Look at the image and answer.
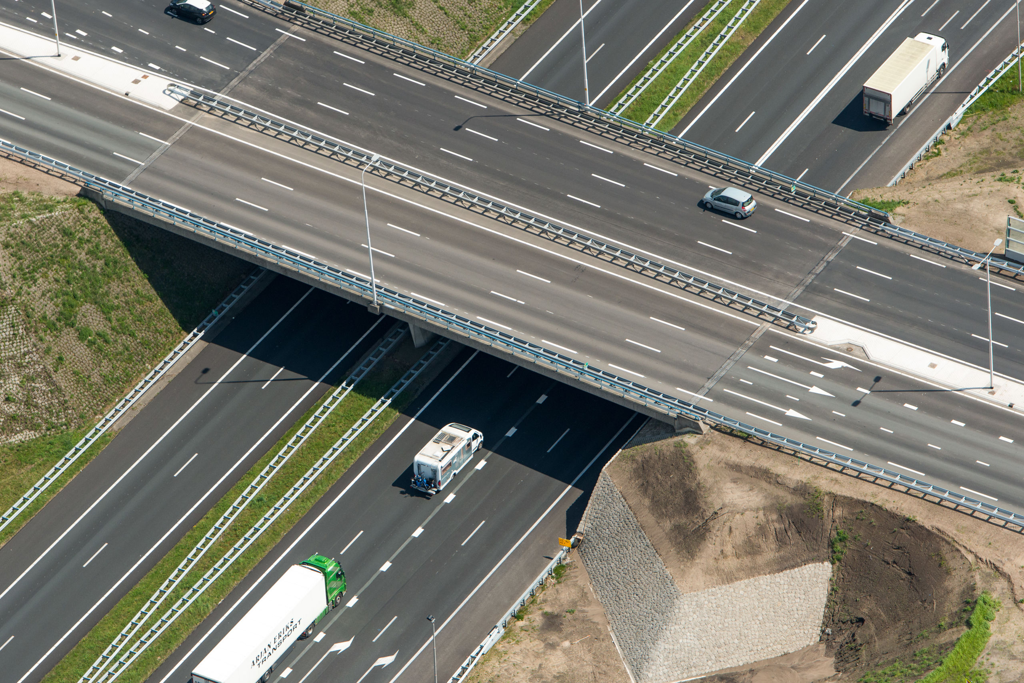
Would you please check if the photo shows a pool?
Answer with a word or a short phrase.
No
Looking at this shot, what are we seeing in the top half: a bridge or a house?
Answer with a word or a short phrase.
bridge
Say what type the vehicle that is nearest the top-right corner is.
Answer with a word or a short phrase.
truck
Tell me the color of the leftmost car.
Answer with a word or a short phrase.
black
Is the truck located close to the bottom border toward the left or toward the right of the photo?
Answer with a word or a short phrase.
left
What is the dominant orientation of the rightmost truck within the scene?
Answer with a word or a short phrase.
at an angle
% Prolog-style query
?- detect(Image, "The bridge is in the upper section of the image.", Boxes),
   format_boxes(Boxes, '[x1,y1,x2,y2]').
[74,4,898,446]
